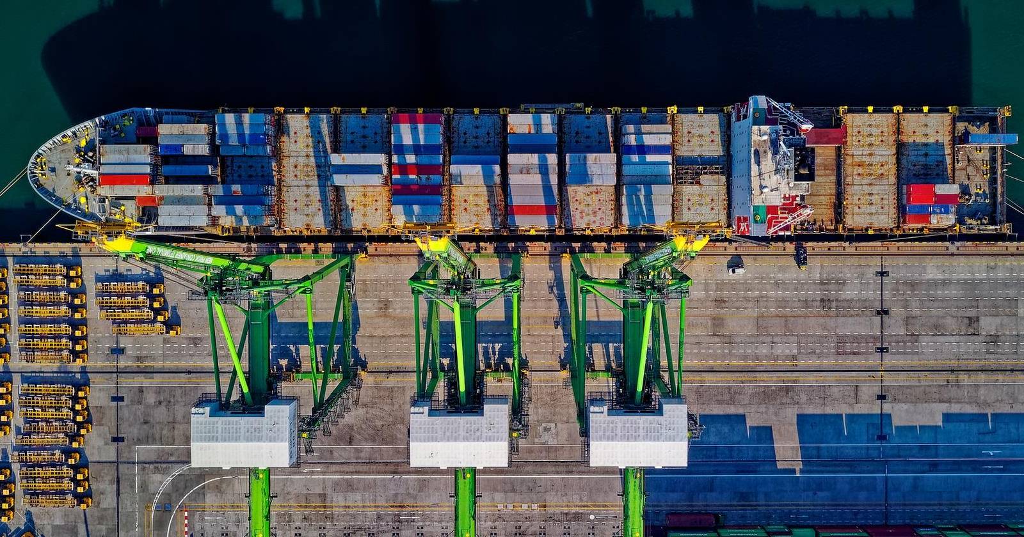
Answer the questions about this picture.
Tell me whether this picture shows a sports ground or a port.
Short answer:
port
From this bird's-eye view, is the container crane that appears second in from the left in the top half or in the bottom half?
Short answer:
bottom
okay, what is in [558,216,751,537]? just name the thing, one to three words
container crane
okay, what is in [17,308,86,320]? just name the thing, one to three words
vehicle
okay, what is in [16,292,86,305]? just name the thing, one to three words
vehicle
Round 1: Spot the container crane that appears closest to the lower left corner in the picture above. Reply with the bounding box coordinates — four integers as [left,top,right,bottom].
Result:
[50,217,368,537]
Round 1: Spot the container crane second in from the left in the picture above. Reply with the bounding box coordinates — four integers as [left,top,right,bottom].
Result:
[380,216,535,537]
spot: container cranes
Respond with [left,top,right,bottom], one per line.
[558,216,751,537]
[50,217,368,537]
[380,216,535,537]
